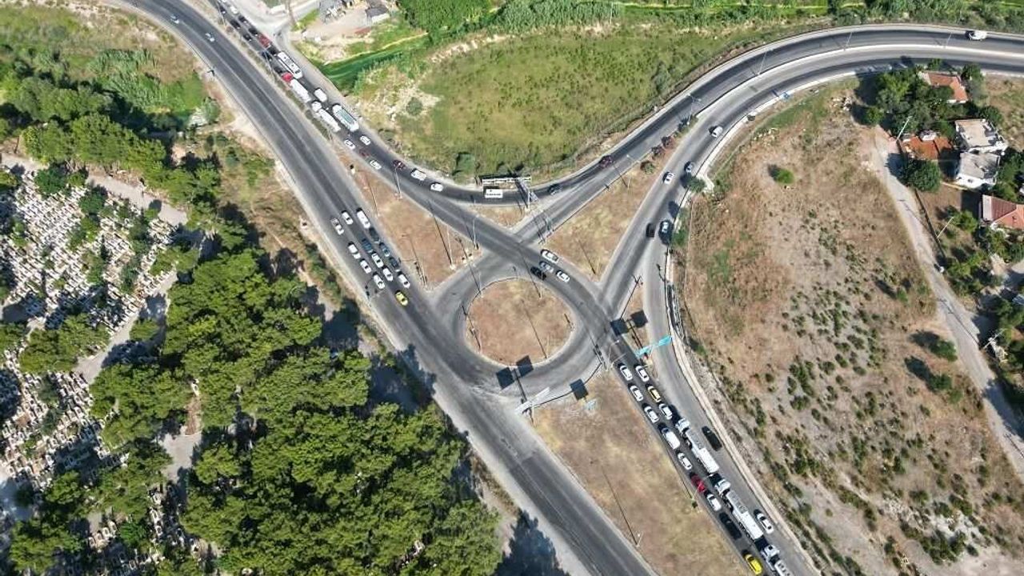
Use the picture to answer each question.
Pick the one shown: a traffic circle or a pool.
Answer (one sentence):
Visible in the photo is a traffic circle.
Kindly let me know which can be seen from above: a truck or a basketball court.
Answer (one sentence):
Visible in the photo is a truck.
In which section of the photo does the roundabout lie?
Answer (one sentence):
You can find the roundabout in the center area of the picture.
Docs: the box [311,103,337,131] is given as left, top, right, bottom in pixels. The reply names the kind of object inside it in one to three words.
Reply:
truck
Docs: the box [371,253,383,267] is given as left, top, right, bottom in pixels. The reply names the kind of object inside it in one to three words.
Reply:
vehicle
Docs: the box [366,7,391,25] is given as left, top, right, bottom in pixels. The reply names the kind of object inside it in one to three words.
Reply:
shed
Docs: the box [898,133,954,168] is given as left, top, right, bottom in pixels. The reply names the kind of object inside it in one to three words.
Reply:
house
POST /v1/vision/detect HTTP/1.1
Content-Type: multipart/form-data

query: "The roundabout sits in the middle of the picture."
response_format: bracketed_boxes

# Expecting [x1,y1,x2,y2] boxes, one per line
[437,257,603,394]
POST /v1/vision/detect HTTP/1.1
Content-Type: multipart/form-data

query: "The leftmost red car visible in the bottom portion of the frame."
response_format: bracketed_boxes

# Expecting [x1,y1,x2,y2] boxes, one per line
[688,471,706,493]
